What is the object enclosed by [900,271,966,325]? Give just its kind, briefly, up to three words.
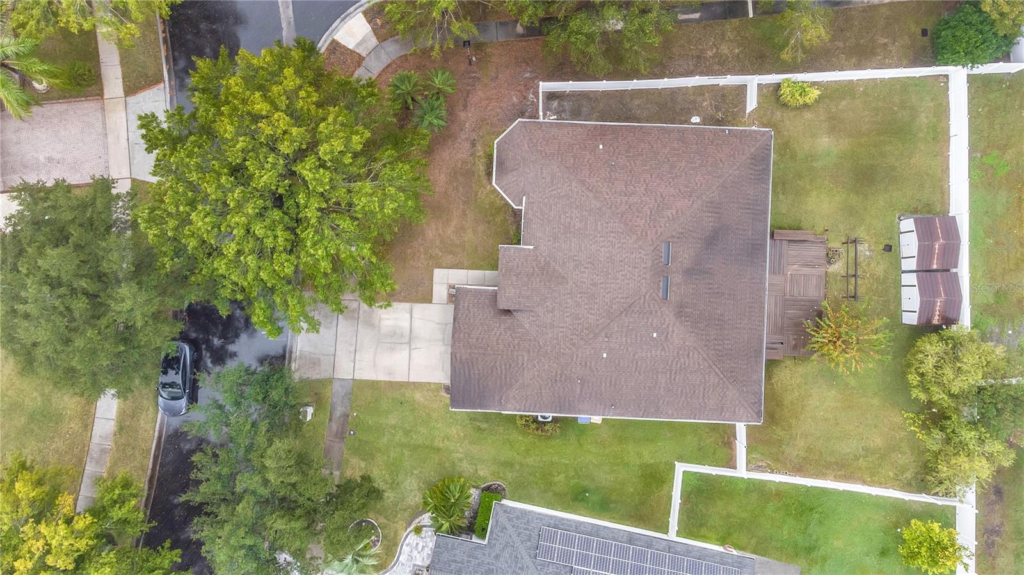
shed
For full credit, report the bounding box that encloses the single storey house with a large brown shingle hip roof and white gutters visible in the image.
[449,118,774,425]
